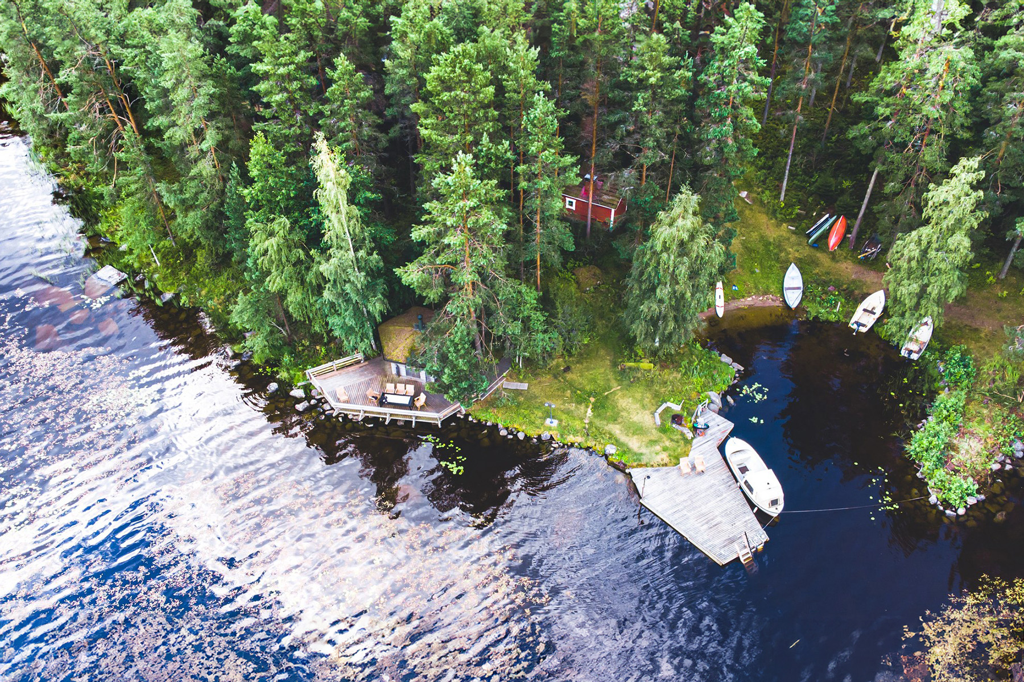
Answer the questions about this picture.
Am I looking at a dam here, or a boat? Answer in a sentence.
There is a boat in the scene.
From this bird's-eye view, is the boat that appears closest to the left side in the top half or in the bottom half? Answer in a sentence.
The boat that appears closest to the left side sits in the bottom half of the picture.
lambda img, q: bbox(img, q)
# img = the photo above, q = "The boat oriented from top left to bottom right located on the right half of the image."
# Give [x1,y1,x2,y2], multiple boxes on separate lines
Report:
[726,439,780,511]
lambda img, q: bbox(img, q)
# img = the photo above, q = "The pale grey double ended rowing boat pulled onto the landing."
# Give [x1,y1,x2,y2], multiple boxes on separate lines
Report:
[783,258,805,307]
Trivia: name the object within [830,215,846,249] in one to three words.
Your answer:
boat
